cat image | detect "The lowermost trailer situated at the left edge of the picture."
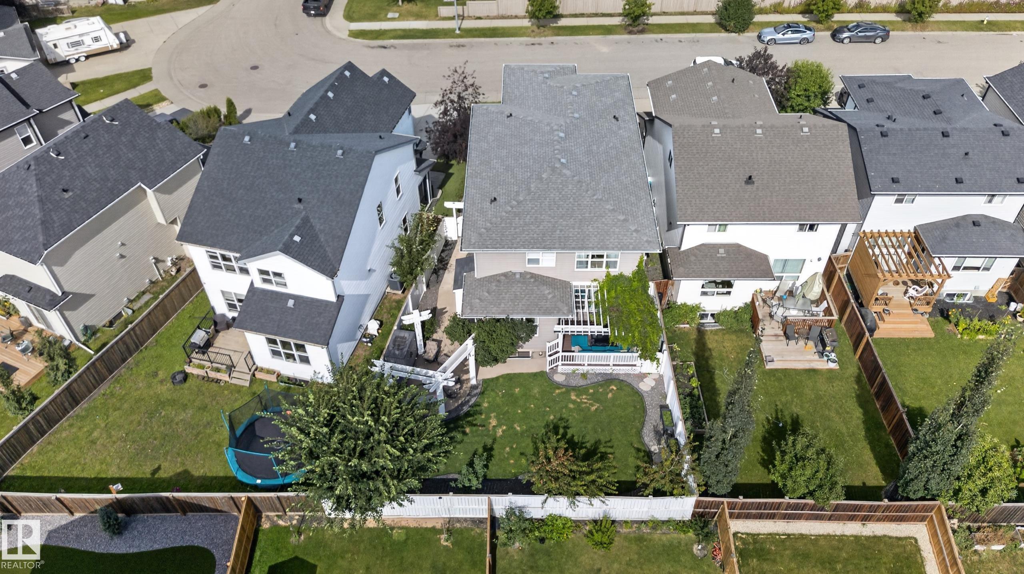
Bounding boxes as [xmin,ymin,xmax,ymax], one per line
[36,12,137,65]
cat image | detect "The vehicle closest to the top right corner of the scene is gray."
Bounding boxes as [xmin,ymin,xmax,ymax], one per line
[829,19,893,45]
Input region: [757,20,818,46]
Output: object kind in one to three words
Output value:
car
